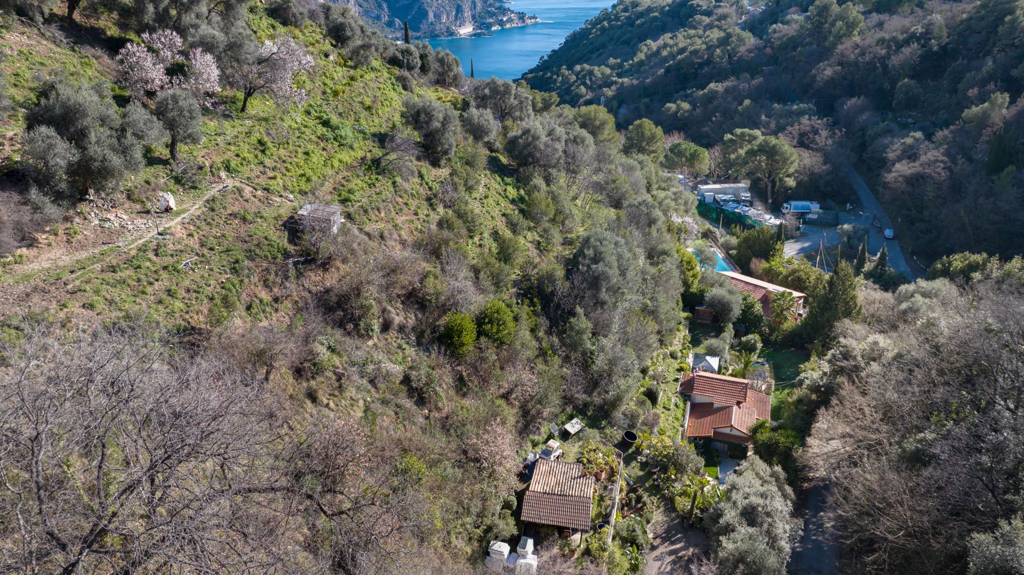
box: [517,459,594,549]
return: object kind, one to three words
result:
shed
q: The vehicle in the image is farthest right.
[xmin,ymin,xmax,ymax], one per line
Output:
[883,227,898,242]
